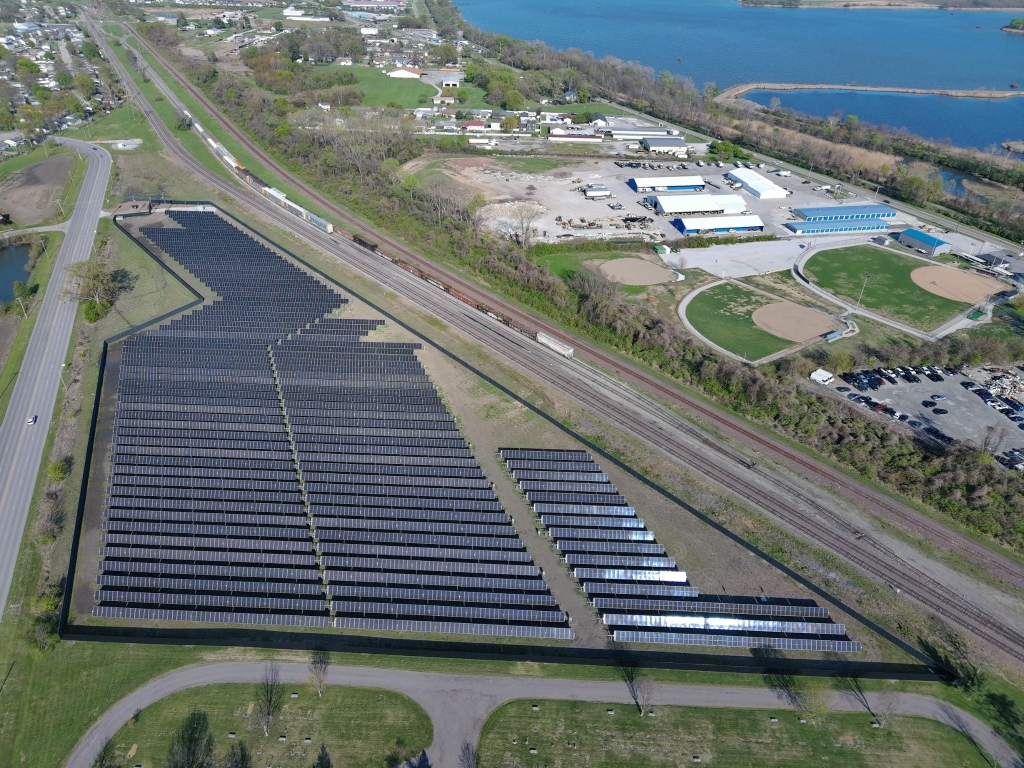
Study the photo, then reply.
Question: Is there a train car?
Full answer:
Yes, I can see a train car in this picture.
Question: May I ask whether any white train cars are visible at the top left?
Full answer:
Yes, a white train car is visible at the top left.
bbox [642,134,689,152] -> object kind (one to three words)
building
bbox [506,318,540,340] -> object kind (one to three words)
rail car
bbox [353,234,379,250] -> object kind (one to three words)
rail car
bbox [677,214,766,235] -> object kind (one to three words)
shed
